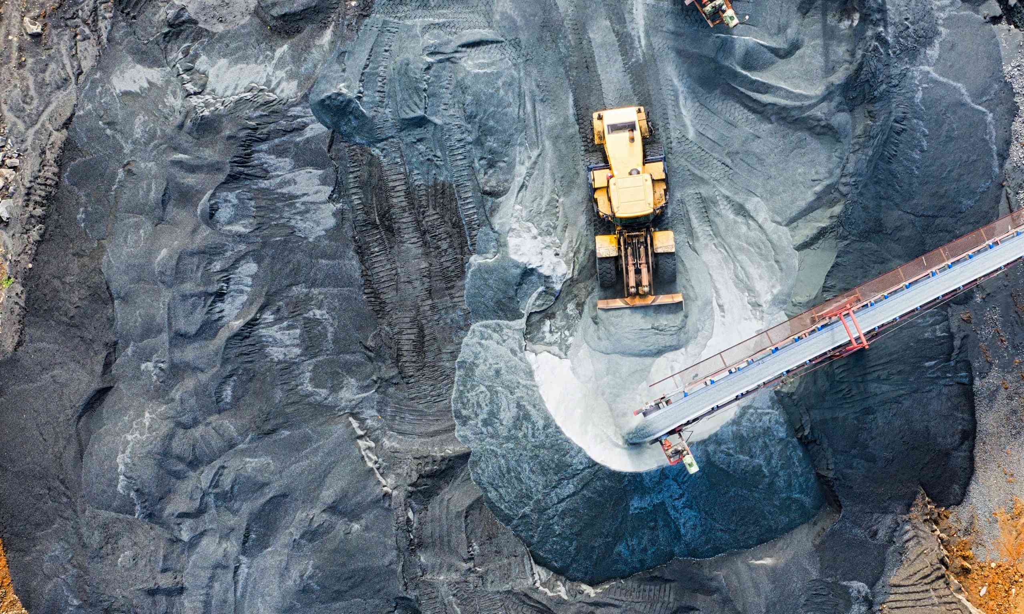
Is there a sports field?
No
